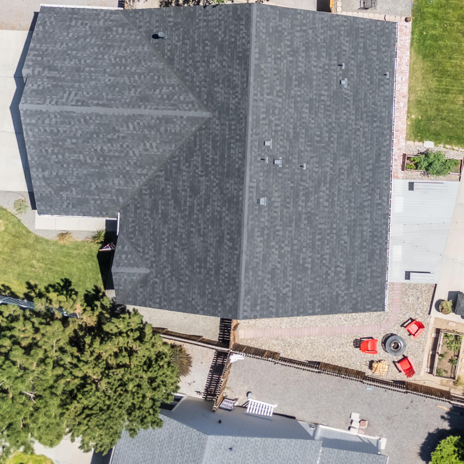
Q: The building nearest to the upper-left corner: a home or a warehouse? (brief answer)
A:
home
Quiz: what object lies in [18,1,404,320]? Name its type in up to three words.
house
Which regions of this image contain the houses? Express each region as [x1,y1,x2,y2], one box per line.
[18,1,404,320]
[103,390,391,464]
